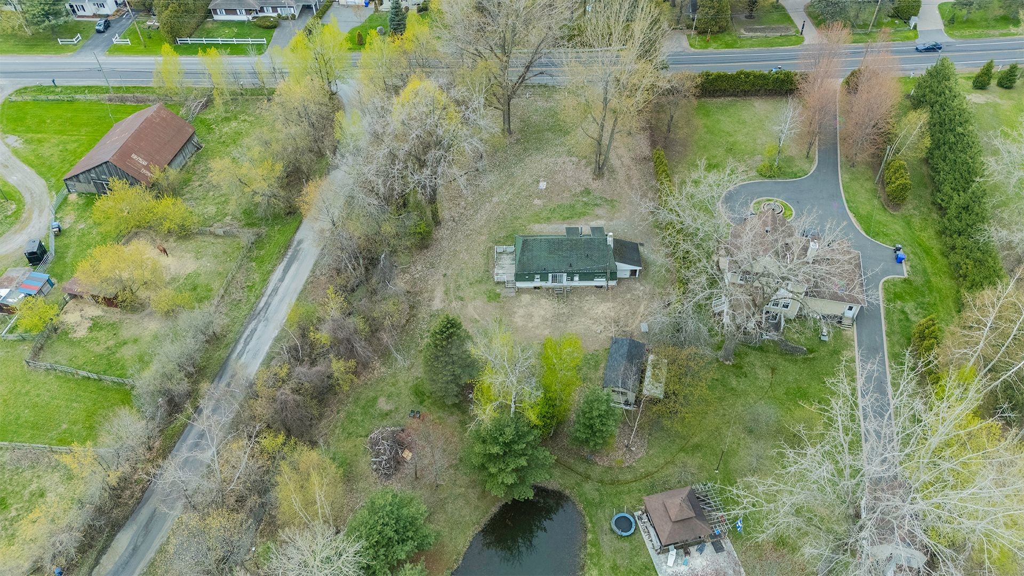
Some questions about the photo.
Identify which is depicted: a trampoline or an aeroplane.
trampoline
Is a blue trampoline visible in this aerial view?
Yes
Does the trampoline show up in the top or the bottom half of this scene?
bottom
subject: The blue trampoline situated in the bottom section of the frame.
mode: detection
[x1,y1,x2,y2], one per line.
[611,505,637,535]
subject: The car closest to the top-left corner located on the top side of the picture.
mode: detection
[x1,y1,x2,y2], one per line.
[89,18,115,34]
